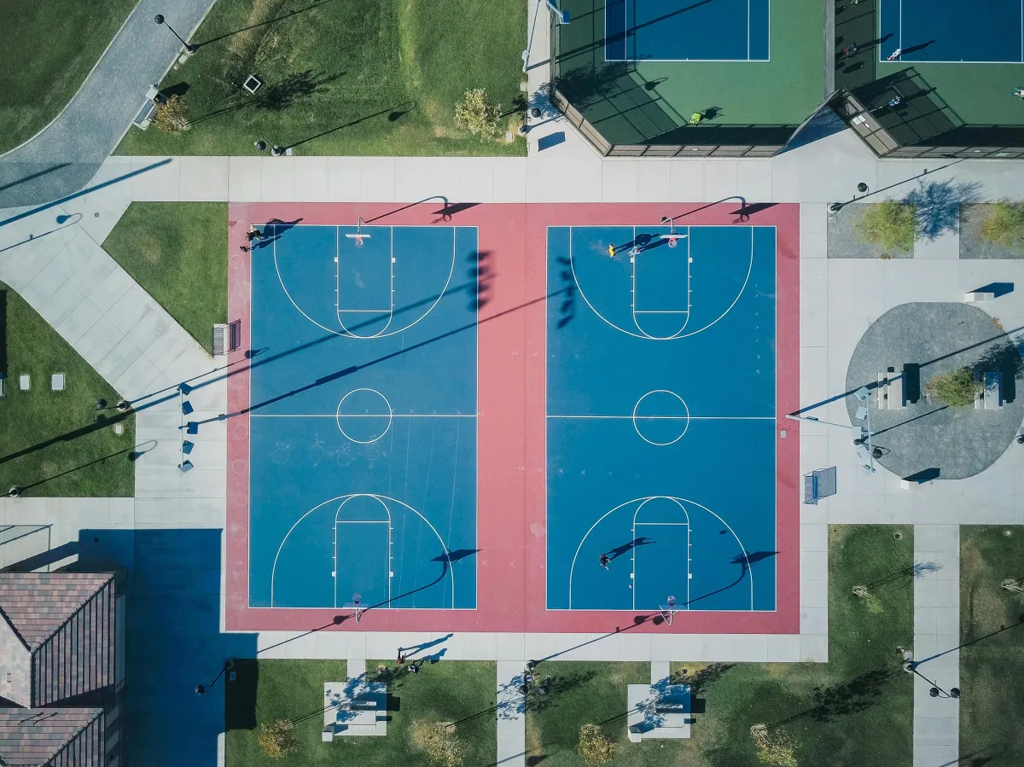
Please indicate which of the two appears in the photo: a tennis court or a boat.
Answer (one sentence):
Looking from above, you can make out a tennis court.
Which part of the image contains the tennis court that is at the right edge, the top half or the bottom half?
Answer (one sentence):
The tennis court that is at the right edge sits in the top half of the picture.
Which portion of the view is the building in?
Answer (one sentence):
Look in the bottom left portion of the view to spot the building.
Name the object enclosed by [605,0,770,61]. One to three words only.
tennis court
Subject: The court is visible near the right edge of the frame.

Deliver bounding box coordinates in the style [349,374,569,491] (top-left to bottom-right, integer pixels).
[880,0,1024,62]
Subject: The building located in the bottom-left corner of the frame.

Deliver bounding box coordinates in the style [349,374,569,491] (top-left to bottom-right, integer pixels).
[0,569,128,767]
